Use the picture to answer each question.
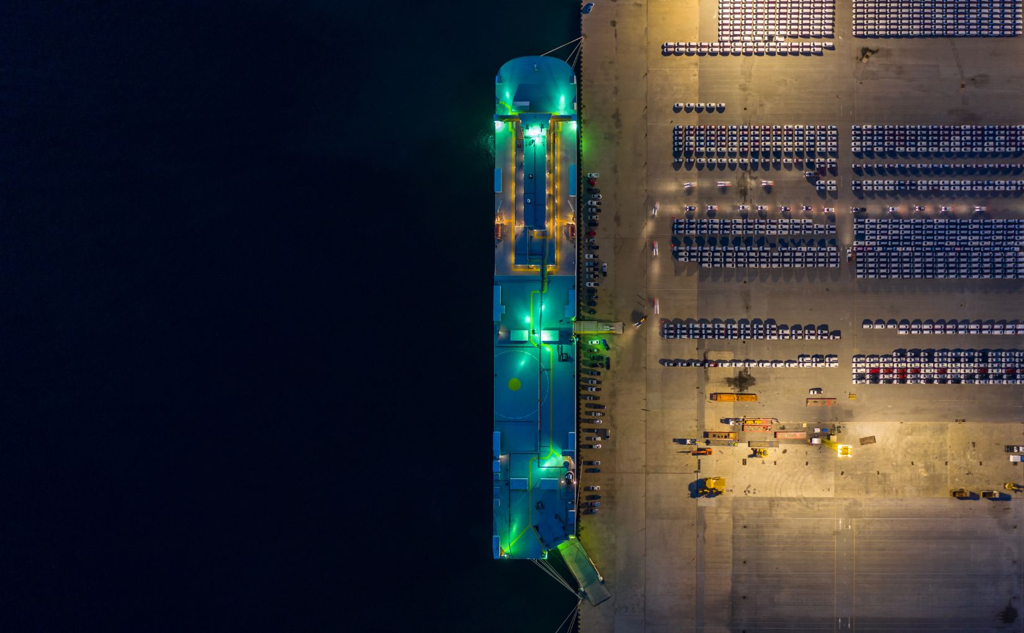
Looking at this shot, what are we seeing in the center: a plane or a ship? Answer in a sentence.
It is a ship that can be seen in the center.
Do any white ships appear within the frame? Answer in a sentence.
No, no white ship is visible in the view.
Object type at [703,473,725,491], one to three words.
vehicle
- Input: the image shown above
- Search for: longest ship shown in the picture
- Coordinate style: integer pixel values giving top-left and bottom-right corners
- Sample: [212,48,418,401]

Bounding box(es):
[493,55,623,606]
